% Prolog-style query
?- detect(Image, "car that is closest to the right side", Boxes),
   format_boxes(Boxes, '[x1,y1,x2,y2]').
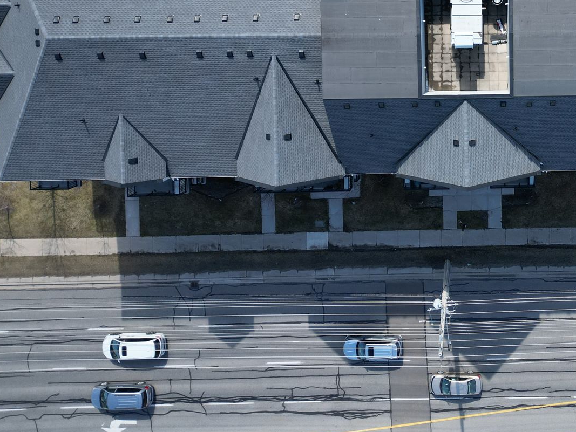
[430,370,483,399]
